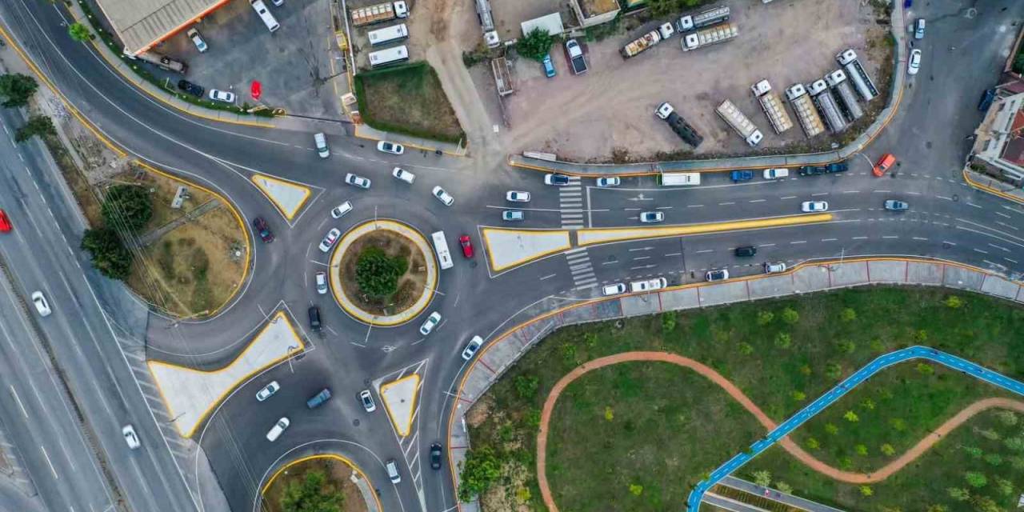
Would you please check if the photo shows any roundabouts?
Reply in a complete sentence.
Yes, this view includes a roundabout.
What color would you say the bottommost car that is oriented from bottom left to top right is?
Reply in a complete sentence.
The bottommost car that is oriented from bottom left to top right looks white in the image.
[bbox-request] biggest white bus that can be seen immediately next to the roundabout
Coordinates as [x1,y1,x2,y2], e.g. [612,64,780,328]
[430,230,454,270]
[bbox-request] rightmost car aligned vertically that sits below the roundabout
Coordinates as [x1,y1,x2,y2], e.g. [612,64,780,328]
[429,442,442,469]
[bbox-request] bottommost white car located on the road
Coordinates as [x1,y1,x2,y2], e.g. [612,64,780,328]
[385,458,402,483]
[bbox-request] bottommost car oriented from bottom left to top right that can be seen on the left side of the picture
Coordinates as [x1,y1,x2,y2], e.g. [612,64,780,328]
[265,416,291,443]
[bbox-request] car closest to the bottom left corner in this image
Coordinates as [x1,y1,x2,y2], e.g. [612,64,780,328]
[123,423,143,450]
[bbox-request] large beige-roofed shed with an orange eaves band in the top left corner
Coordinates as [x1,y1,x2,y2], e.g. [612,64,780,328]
[95,0,242,60]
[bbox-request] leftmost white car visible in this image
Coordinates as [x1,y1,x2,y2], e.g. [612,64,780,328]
[33,291,54,318]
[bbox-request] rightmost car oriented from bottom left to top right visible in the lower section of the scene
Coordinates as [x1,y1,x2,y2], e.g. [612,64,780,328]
[461,335,484,360]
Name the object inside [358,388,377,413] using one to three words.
car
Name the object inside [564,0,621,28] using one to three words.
building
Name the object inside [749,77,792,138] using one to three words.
truck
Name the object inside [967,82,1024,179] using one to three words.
house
